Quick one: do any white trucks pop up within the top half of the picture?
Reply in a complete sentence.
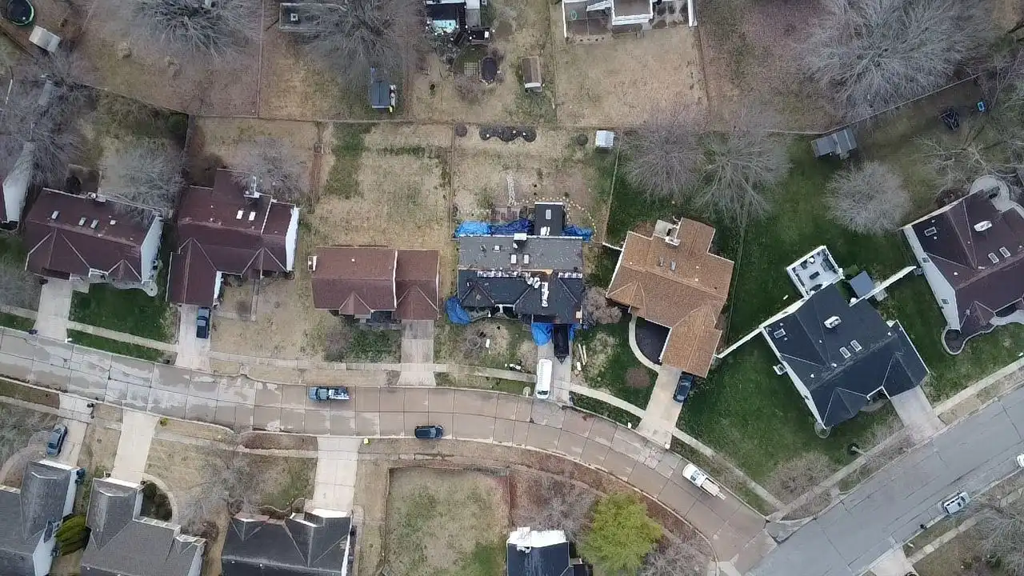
No, there's no white truck to be seen within the top half of the picture.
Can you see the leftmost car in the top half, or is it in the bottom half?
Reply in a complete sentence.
It is in the bottom half that the leftmost car appears.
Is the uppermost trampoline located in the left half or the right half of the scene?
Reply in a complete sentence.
The uppermost trampoline is on the left side of the image.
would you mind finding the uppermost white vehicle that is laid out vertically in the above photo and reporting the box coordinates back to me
[535,358,552,399]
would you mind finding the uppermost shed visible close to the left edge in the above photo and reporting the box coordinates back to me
[29,26,63,53]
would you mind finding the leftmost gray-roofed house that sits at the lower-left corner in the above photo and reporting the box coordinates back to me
[0,456,81,576]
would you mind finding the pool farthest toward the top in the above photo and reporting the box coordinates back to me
[433,20,457,37]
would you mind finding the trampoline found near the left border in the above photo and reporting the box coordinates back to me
[2,0,38,26]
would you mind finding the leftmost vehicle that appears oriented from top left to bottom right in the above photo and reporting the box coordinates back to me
[682,465,720,496]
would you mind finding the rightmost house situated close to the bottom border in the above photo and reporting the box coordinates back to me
[506,527,590,576]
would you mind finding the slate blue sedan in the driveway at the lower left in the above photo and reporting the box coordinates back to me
[45,423,69,457]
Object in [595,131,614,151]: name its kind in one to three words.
shed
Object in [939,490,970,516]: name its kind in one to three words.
car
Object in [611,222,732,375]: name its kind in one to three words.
house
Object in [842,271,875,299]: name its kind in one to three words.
shed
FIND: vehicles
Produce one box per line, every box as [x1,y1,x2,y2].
[939,490,970,516]
[535,358,552,399]
[672,372,692,402]
[682,465,720,496]
[310,386,351,401]
[45,423,69,457]
[195,306,213,339]
[415,425,443,439]
[1013,450,1024,466]
[904,571,917,576]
